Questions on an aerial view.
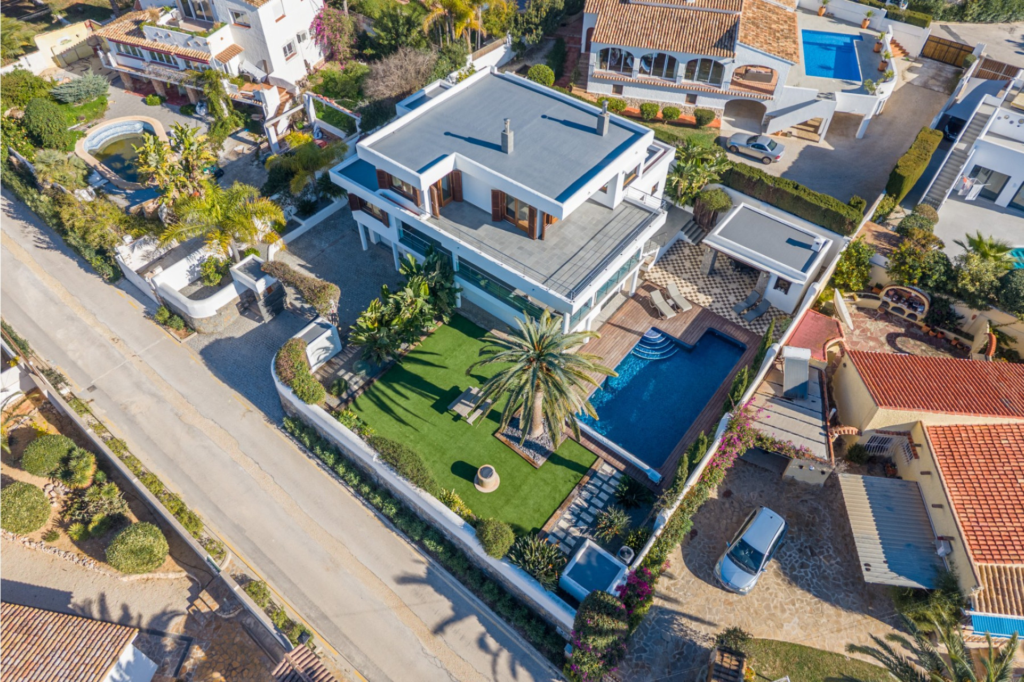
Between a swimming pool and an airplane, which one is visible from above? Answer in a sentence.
There is a swimming pool in the scene.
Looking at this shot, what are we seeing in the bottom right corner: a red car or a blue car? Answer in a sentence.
Visible in the bottom right corner is a blue car.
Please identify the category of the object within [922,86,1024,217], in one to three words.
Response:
house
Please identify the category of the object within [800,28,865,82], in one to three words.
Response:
swimming pool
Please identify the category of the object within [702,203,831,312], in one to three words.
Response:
building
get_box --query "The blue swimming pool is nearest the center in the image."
[573,306,749,467]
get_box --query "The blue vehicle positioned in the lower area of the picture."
[716,498,793,594]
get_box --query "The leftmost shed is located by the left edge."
[0,328,46,416]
